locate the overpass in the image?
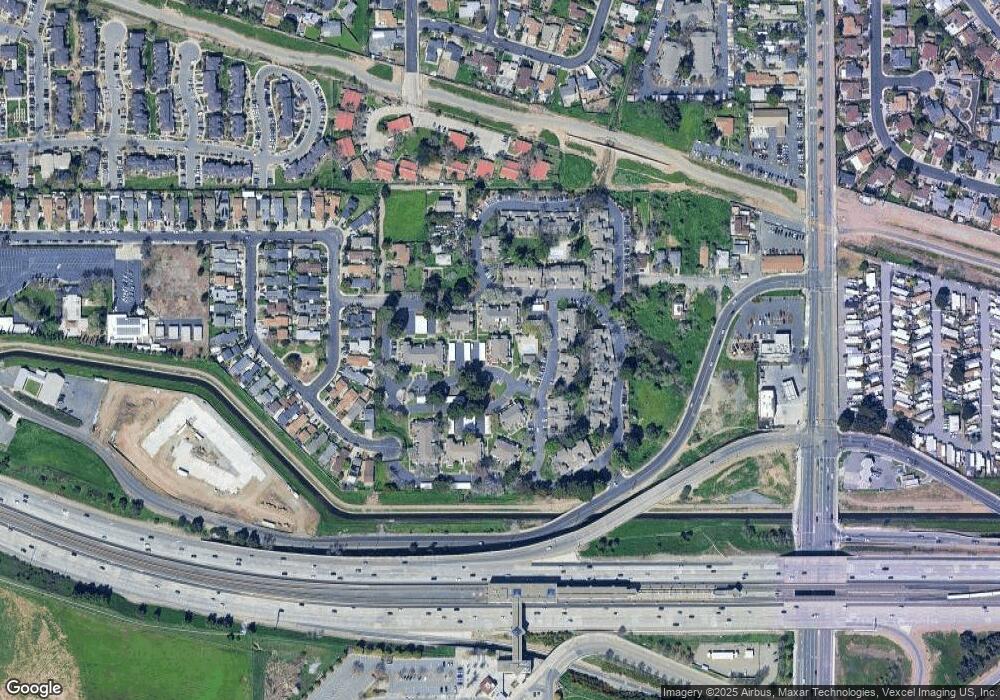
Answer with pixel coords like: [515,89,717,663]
[786,556,851,632]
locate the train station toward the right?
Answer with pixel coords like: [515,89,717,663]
[486,585,741,674]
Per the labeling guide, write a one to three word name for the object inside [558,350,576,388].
building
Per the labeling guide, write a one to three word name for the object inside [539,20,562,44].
house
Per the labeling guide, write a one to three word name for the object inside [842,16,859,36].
house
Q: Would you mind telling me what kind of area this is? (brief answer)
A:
residential area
